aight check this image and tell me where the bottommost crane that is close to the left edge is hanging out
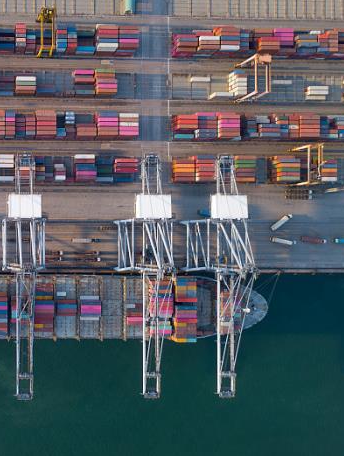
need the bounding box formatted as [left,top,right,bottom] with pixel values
[0,154,47,399]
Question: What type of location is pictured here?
port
